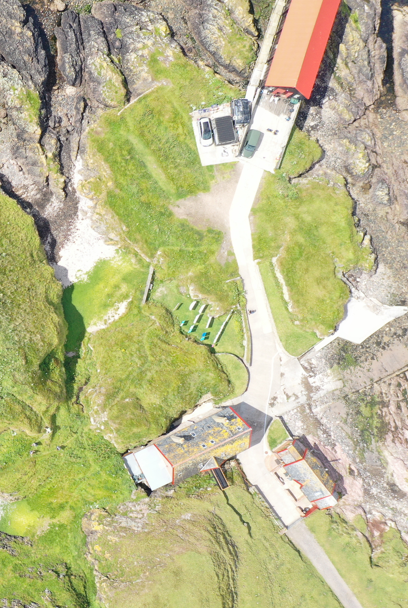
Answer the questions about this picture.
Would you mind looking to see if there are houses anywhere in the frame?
Yes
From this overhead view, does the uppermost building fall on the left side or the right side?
right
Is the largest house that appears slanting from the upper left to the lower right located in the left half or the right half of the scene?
right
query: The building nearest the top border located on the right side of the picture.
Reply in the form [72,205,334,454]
[250,0,341,102]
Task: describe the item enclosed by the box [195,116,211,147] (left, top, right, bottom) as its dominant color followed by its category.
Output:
white car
